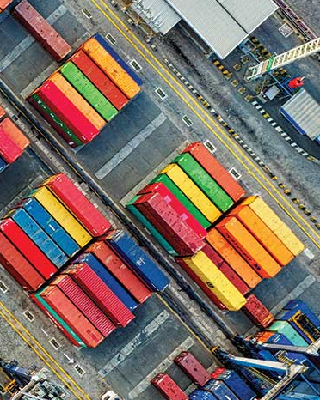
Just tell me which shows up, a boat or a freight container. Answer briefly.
freight container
